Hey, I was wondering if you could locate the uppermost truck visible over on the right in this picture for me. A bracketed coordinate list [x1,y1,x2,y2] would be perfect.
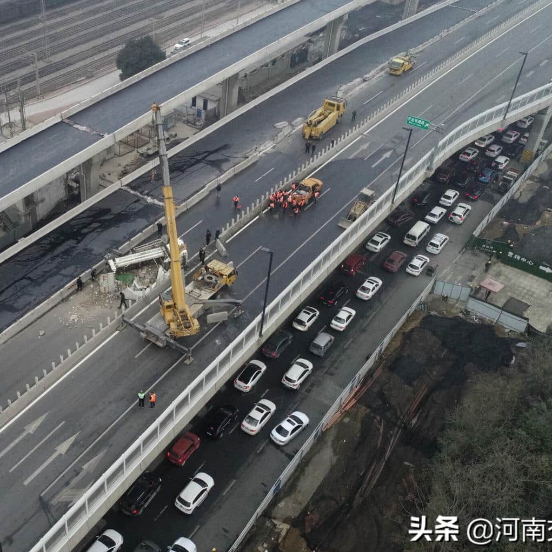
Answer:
[384,52,417,77]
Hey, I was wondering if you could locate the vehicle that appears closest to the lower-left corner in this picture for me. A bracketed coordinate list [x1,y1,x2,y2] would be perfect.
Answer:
[84,525,124,552]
